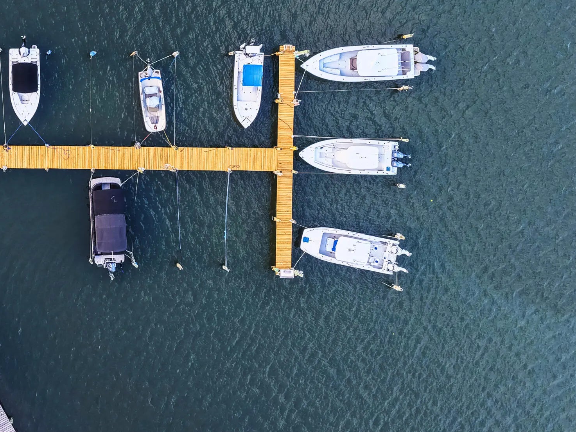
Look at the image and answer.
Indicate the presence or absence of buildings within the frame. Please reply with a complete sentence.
No, no building is visible in the scene.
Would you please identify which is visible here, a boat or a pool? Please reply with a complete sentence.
I can see a boat in this picture.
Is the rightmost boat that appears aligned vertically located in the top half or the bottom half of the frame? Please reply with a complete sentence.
The rightmost boat that appears aligned vertically is in the top half of the image.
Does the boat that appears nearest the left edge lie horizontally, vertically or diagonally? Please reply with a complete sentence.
The boat that appears nearest the left edge is laid out vertically.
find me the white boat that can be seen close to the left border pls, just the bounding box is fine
[9,33,40,126]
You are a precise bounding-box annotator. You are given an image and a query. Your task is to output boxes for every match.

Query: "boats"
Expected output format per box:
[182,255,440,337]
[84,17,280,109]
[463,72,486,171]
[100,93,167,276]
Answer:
[231,39,265,128]
[297,42,436,83]
[90,176,128,281]
[139,56,166,132]
[295,139,415,174]
[9,33,40,126]
[299,227,413,274]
